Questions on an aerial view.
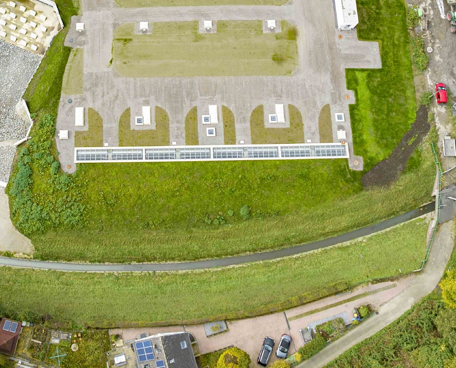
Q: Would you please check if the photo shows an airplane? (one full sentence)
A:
No, no airplane is visible in the view.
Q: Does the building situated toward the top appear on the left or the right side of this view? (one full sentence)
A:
The building situated toward the top is on the right side of the image.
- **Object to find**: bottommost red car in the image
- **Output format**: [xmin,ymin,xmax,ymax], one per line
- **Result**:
[434,83,449,106]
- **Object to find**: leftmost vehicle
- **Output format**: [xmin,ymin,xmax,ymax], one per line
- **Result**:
[256,334,278,368]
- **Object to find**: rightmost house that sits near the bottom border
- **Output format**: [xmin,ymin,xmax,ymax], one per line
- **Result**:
[100,325,197,368]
